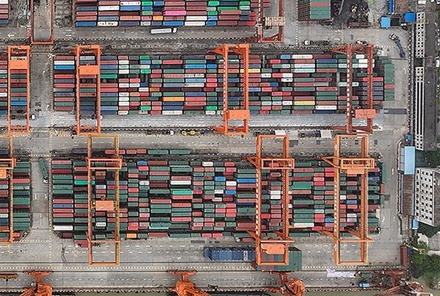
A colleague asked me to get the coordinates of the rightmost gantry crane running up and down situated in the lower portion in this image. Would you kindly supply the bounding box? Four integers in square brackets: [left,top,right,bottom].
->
[314,135,374,265]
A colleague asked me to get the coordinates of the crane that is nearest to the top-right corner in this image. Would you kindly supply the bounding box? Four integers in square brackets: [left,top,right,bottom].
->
[326,42,376,134]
